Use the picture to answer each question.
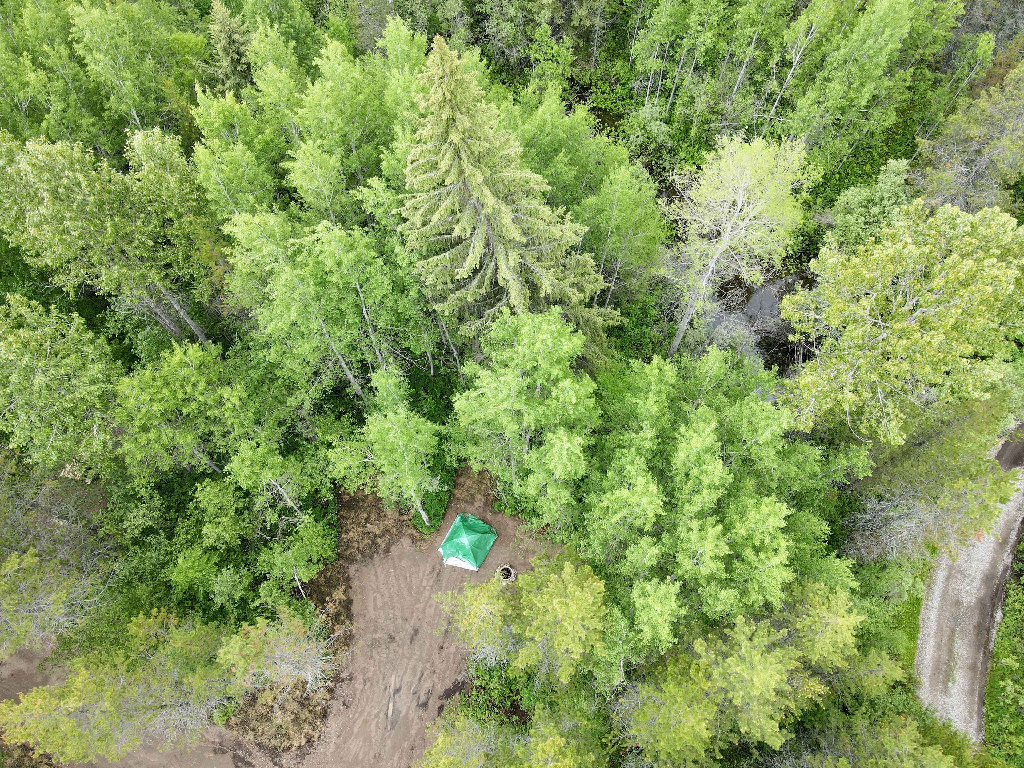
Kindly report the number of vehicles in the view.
0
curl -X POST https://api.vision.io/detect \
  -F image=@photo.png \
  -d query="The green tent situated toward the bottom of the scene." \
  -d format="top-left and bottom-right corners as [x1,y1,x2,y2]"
[436,512,499,574]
